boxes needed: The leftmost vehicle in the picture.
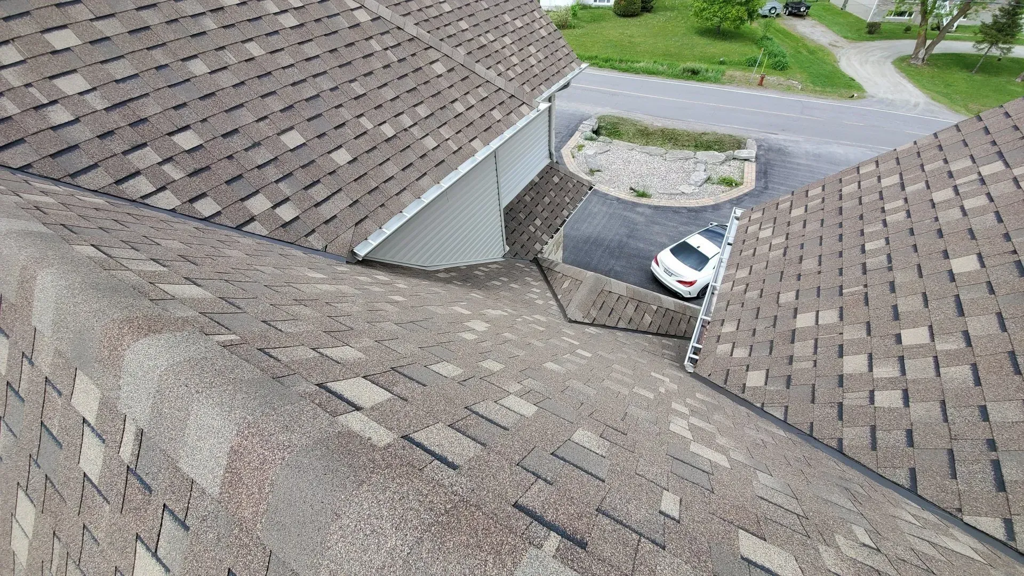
[653,220,730,295]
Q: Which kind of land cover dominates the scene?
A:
buildings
